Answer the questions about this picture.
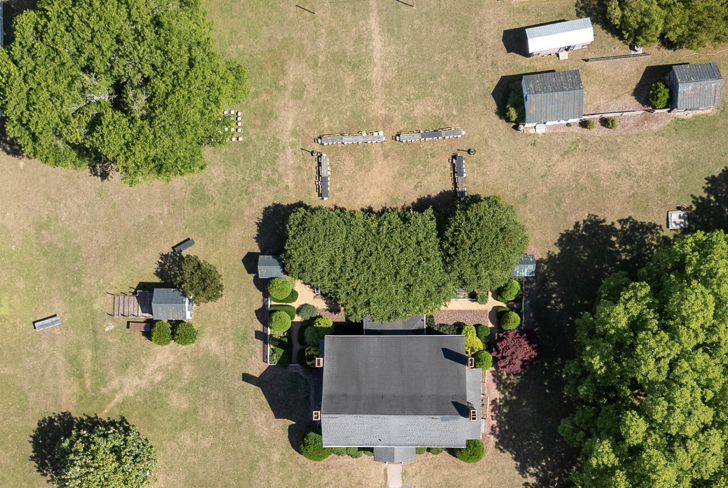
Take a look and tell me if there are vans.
No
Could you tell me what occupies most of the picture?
grass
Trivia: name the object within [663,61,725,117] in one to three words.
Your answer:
shed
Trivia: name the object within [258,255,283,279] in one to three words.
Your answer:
house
